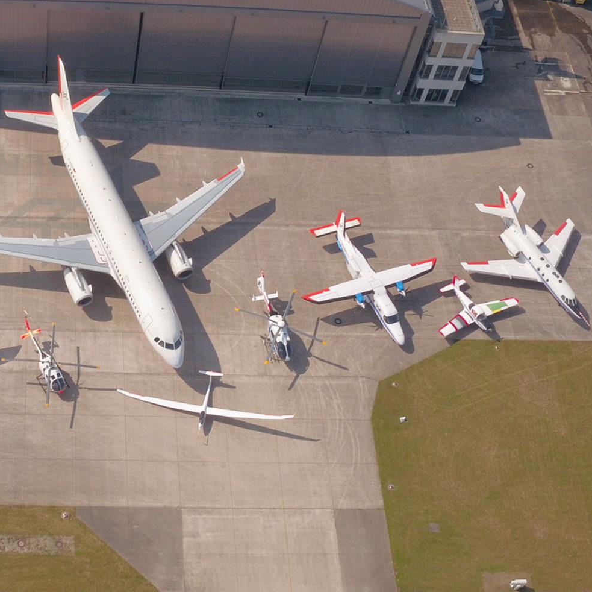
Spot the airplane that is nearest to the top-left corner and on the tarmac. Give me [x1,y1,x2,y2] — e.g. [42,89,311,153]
[0,54,246,369]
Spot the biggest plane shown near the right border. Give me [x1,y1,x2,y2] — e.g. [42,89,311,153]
[456,186,589,331]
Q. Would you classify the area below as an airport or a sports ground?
airport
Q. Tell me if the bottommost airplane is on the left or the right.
left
